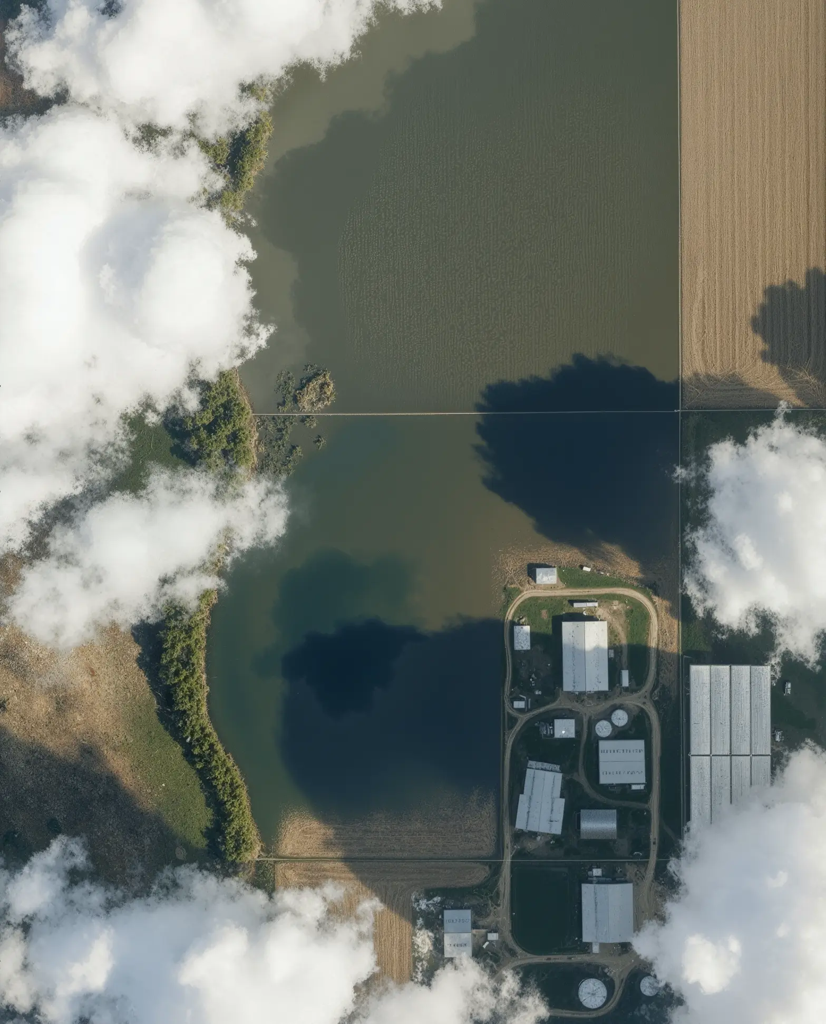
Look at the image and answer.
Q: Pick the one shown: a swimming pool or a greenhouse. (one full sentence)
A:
The one in the frame is a greenhouse.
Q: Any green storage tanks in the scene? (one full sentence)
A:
No, no green storage tank can be seen from above.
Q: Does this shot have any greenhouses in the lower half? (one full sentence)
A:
Yes, I can see a greenhouse in the lower half.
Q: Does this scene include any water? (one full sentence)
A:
Yes, water can be seen from above here.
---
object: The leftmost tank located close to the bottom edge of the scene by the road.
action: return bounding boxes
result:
[578,978,607,1008]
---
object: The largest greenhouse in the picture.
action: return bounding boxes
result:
[690,665,771,848]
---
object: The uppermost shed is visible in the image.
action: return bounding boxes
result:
[536,568,557,584]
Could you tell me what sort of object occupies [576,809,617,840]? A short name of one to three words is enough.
shed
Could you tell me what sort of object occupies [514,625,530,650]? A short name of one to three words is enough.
shed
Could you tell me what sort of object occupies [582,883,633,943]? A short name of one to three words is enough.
barn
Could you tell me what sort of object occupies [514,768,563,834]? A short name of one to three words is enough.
barn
